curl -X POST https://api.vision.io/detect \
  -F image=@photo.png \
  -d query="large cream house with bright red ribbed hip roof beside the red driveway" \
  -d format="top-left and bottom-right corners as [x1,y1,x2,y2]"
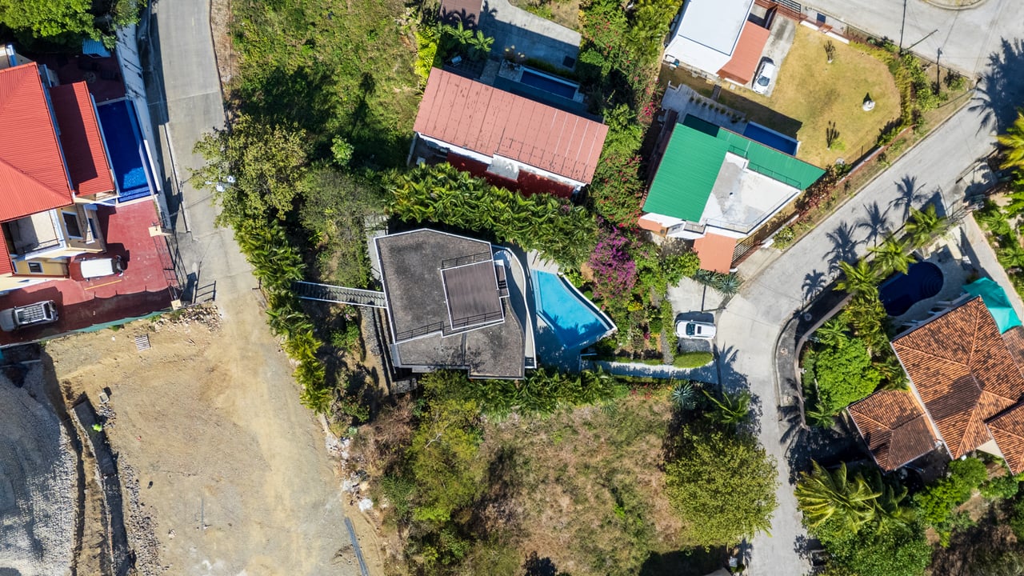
[0,45,123,289]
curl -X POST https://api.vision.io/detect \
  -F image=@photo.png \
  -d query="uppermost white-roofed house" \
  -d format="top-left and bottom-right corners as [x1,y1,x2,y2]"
[663,0,770,91]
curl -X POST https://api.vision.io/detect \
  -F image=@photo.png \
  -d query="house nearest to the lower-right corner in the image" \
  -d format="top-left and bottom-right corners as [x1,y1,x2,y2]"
[839,290,1024,475]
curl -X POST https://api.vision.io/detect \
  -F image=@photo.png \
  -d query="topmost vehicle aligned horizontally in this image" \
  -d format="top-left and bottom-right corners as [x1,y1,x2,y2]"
[77,255,126,278]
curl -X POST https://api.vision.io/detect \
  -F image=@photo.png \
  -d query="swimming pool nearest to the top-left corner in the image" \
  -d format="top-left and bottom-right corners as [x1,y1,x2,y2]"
[98,99,149,198]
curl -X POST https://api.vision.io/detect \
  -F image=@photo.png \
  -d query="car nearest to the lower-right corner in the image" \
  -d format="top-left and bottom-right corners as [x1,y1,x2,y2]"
[673,317,718,339]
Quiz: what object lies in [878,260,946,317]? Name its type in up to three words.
swimming pool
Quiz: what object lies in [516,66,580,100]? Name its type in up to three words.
swimming pool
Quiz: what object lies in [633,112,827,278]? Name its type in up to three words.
building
